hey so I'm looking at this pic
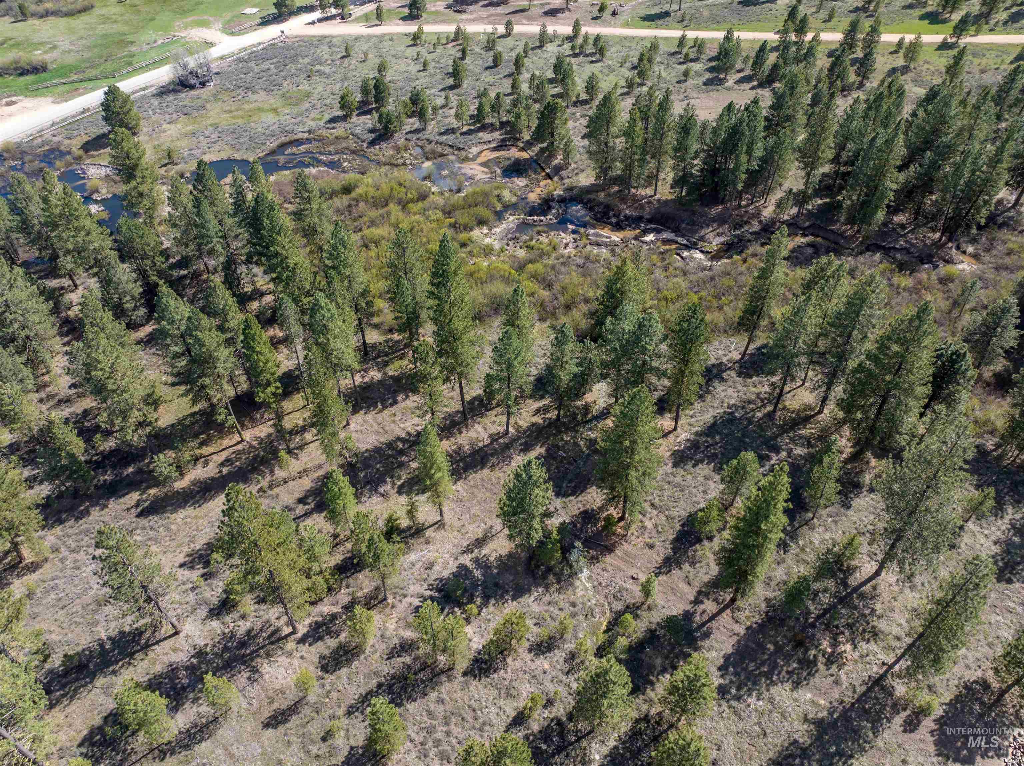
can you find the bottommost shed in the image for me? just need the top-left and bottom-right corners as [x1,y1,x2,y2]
[163,63,230,88]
